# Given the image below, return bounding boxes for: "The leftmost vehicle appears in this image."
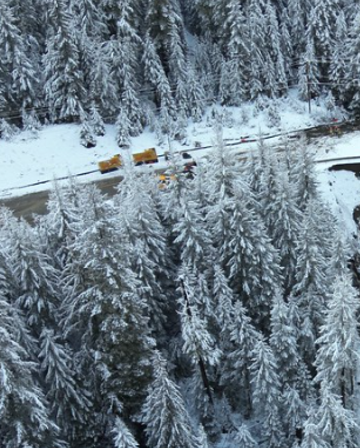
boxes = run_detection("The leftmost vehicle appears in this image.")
[94,157,126,176]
